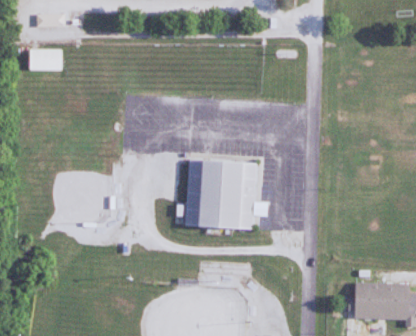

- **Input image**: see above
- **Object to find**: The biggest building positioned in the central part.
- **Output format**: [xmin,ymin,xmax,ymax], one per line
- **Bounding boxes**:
[175,160,270,229]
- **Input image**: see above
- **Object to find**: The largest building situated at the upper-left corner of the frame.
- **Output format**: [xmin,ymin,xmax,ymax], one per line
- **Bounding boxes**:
[28,48,62,72]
